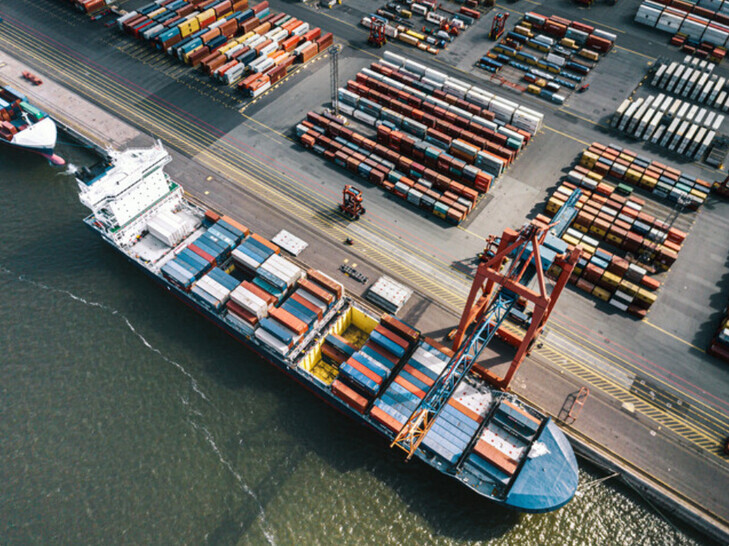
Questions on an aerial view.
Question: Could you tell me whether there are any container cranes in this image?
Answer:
Yes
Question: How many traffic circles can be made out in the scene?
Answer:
none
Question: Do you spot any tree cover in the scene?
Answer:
No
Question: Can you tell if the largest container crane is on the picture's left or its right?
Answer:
right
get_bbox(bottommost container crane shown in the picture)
[382,181,590,464]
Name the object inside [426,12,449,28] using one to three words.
vehicle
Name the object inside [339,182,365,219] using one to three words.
work vehicle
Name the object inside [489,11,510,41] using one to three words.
work vehicle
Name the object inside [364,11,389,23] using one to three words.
vehicle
